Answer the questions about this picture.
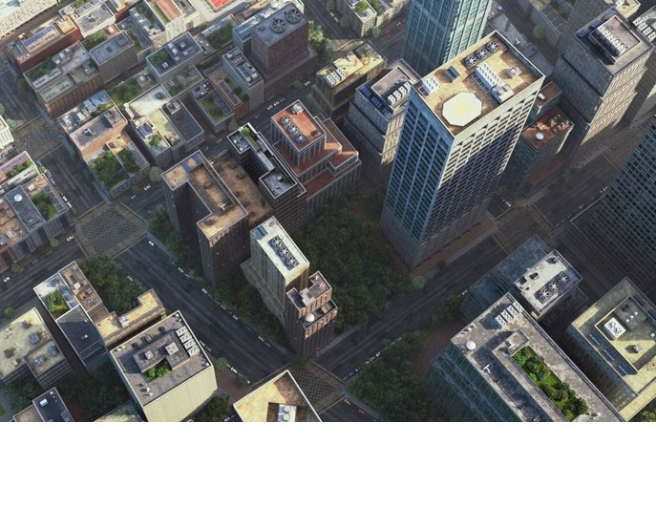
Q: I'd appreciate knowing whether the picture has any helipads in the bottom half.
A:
No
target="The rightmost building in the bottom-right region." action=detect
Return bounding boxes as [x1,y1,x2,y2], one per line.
[616,385,656,424]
